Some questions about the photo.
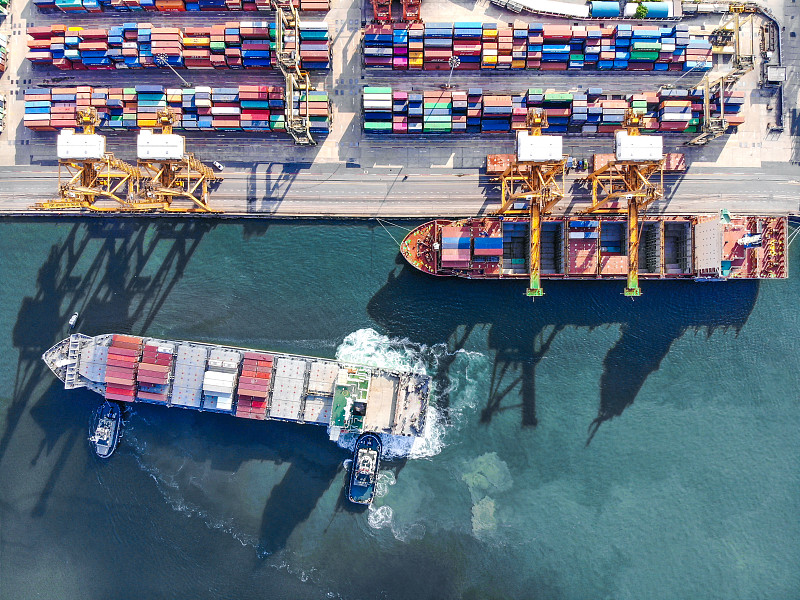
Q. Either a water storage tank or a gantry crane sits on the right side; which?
gantry crane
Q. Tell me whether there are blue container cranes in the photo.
No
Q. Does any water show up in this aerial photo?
Yes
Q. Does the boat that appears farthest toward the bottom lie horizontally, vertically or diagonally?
vertically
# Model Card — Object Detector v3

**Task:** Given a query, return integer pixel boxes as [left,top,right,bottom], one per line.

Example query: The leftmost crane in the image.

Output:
[24,110,165,212]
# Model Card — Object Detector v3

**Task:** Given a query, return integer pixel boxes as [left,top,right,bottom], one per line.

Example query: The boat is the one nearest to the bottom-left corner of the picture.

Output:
[89,400,123,461]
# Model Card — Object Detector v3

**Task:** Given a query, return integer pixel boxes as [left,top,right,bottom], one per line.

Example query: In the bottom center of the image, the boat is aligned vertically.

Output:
[347,433,383,505]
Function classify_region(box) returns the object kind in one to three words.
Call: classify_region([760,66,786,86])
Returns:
building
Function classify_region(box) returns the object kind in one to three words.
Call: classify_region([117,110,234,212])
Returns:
container crane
